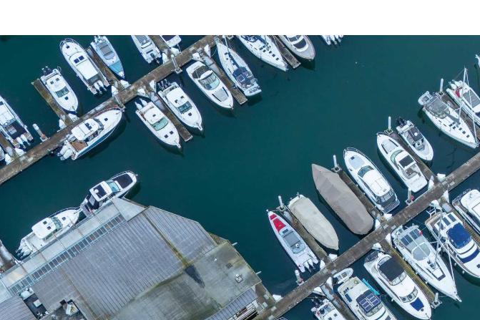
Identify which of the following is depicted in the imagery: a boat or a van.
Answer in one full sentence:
I can see a boat in this picture.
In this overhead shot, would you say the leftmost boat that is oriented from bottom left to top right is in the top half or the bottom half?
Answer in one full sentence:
The bottom half of the photo is where the leftmost boat that is oriented from bottom left to top right is.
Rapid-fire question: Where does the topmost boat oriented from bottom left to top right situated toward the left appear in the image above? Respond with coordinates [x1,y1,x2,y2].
[65,103,124,161]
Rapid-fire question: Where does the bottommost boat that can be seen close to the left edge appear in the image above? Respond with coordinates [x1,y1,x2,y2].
[18,205,83,256]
